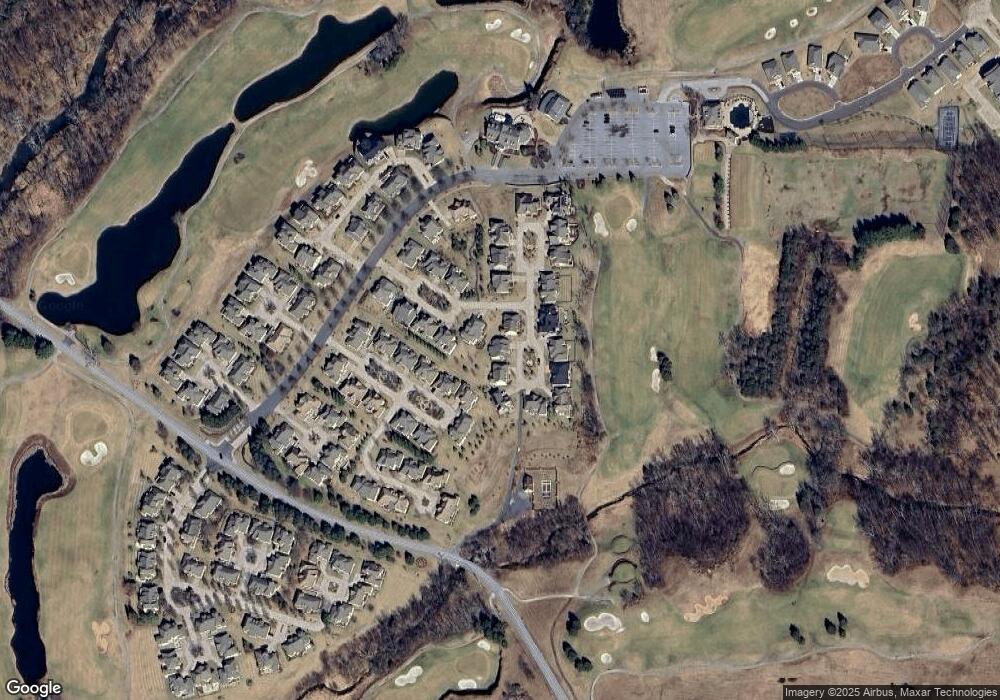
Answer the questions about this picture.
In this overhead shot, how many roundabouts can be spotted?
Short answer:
2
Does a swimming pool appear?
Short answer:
Yes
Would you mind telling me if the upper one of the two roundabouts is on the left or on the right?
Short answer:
right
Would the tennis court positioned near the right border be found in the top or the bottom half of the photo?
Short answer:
top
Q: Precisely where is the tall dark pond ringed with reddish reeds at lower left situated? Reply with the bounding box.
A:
[8,449,62,688]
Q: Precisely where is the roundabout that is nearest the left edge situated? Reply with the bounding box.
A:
[771,78,842,126]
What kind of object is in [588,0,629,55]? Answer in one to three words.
pond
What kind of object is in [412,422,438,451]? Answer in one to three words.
house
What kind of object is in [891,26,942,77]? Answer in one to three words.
roundabout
